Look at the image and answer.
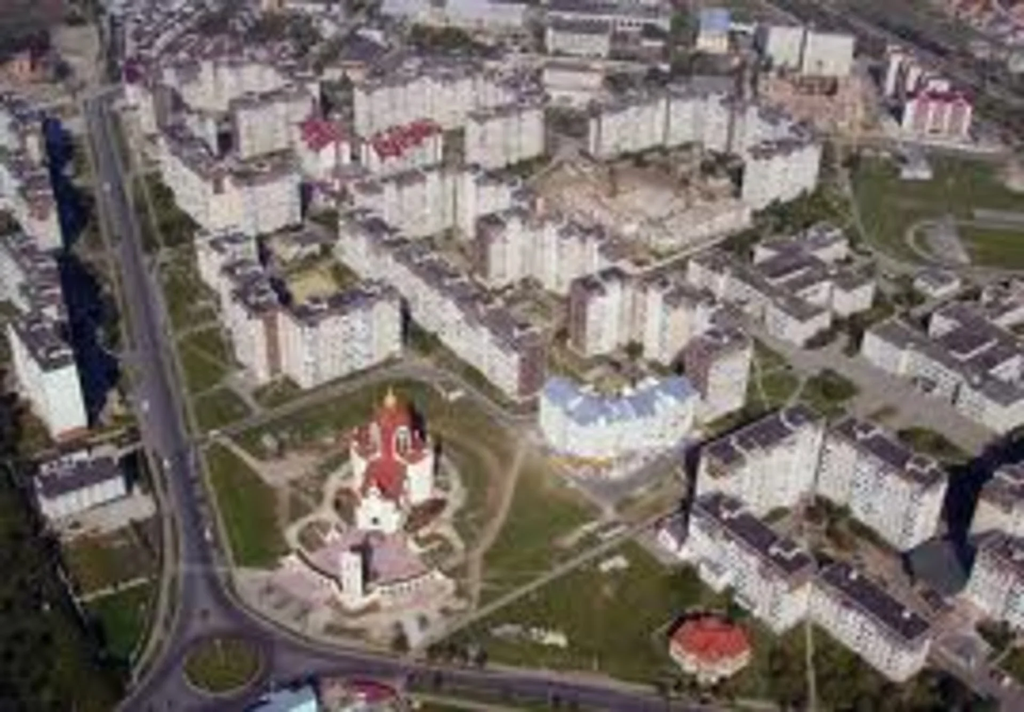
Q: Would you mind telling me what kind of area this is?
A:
residential area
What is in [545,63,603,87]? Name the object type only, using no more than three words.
building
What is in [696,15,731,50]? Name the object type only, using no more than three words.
house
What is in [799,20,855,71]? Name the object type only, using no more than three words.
building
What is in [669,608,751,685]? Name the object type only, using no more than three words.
house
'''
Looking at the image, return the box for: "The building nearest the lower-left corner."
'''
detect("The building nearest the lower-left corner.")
[42,452,132,521]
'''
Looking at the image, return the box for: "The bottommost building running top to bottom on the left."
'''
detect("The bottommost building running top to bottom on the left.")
[334,536,365,611]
